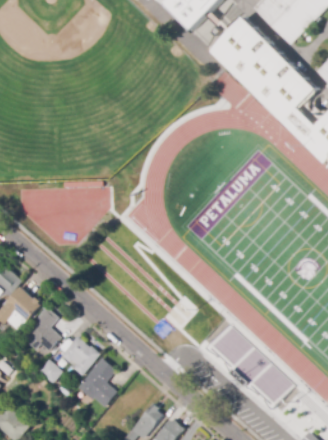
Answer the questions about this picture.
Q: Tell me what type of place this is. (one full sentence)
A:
The picture captures a sports ground.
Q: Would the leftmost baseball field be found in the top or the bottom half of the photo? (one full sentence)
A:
The leftmost baseball field is in the top half of the image.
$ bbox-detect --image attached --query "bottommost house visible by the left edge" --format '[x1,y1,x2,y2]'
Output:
[0,410,29,440]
